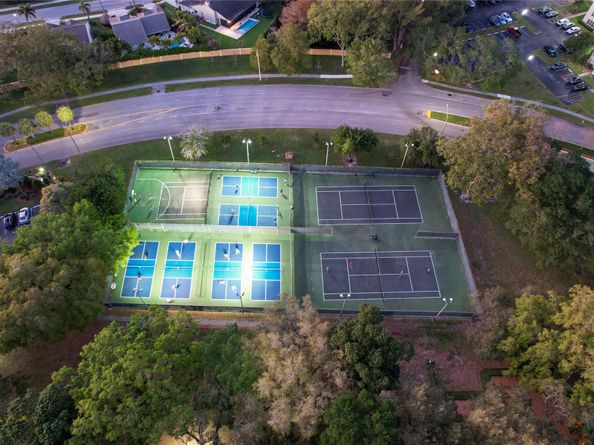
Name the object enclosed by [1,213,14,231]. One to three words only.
vehicle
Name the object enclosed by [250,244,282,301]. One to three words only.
sports court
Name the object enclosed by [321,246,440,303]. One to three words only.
tennis court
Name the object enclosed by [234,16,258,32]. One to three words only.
swimming pool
